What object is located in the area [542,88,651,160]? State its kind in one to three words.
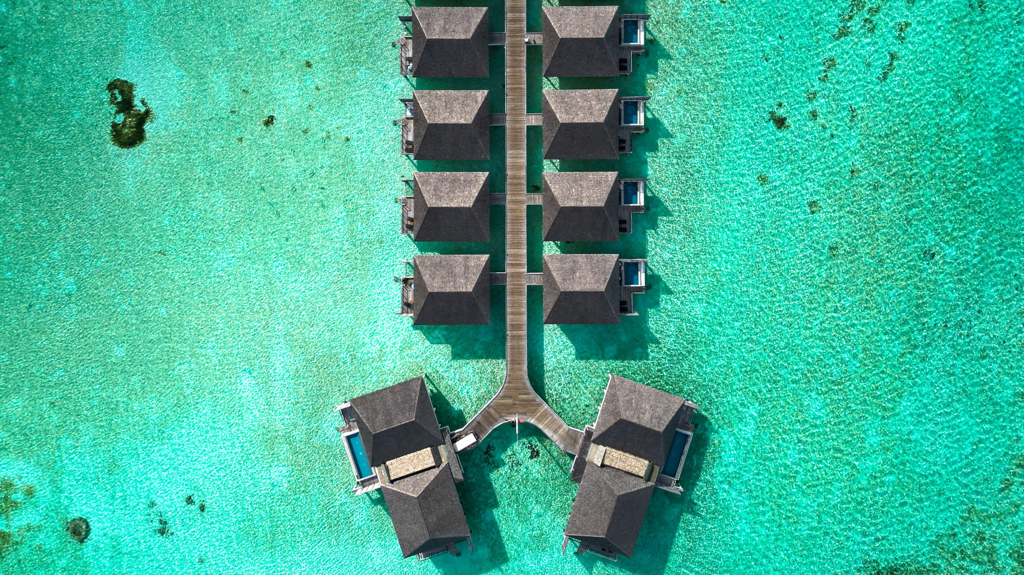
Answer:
house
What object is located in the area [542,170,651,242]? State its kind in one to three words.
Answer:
house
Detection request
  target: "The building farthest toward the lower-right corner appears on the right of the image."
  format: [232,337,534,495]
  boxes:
[560,371,701,561]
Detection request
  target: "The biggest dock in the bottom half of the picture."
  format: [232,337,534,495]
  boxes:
[449,370,584,456]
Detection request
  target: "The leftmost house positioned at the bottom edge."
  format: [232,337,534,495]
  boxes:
[333,371,474,561]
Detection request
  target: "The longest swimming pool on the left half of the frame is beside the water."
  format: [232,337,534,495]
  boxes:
[344,428,376,479]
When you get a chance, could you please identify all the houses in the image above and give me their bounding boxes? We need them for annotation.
[560,371,701,561]
[394,6,489,78]
[542,170,651,242]
[542,88,651,160]
[395,89,490,161]
[396,254,490,325]
[396,171,490,242]
[333,371,474,561]
[543,253,652,325]
[542,5,651,77]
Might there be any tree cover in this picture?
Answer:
No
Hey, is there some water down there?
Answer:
Yes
